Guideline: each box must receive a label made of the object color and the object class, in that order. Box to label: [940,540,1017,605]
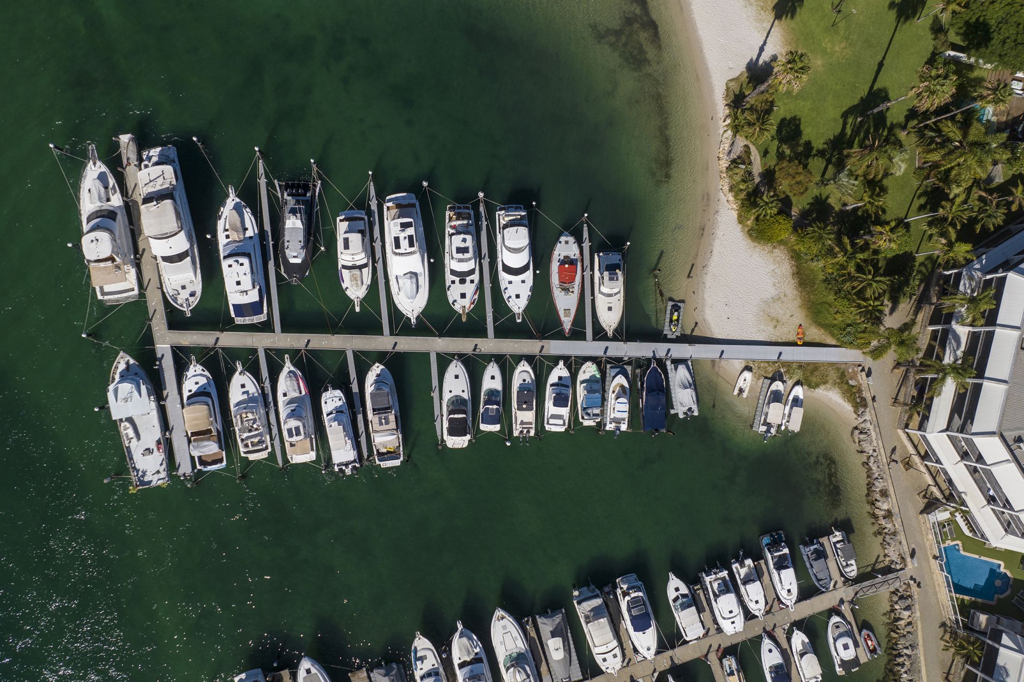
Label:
blue swimming pool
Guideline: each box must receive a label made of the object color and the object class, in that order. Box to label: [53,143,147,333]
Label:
white boat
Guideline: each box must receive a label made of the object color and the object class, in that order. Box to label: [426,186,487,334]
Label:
white boat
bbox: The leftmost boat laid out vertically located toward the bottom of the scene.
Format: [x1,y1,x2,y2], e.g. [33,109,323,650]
[86,336,174,497]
